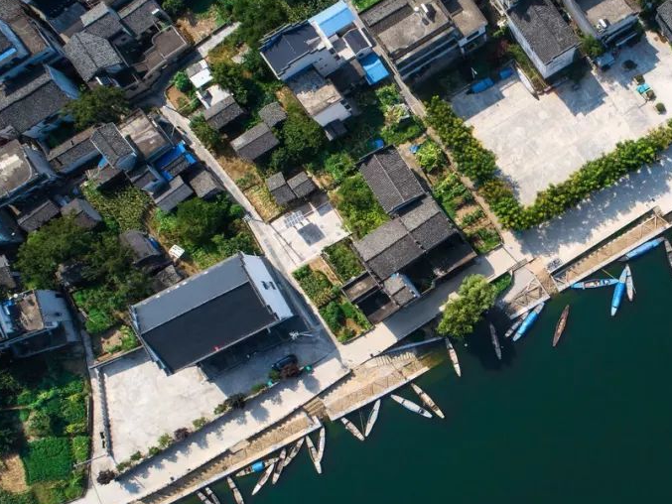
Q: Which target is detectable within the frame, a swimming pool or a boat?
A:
boat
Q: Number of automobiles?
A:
one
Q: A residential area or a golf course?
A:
residential area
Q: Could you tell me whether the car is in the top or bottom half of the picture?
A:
bottom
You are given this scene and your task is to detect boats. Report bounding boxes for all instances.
[666,241,672,264]
[506,312,530,336]
[572,281,619,288]
[628,264,633,301]
[342,418,364,440]
[206,488,219,504]
[317,428,323,466]
[227,478,243,504]
[554,306,569,346]
[411,385,444,418]
[491,324,501,358]
[514,302,544,341]
[307,437,320,474]
[273,450,286,484]
[612,266,628,315]
[197,494,209,504]
[252,464,274,495]
[236,459,277,476]
[284,439,305,466]
[390,394,431,417]
[446,338,461,376]
[619,237,666,260]
[366,400,380,437]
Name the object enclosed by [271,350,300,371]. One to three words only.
car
